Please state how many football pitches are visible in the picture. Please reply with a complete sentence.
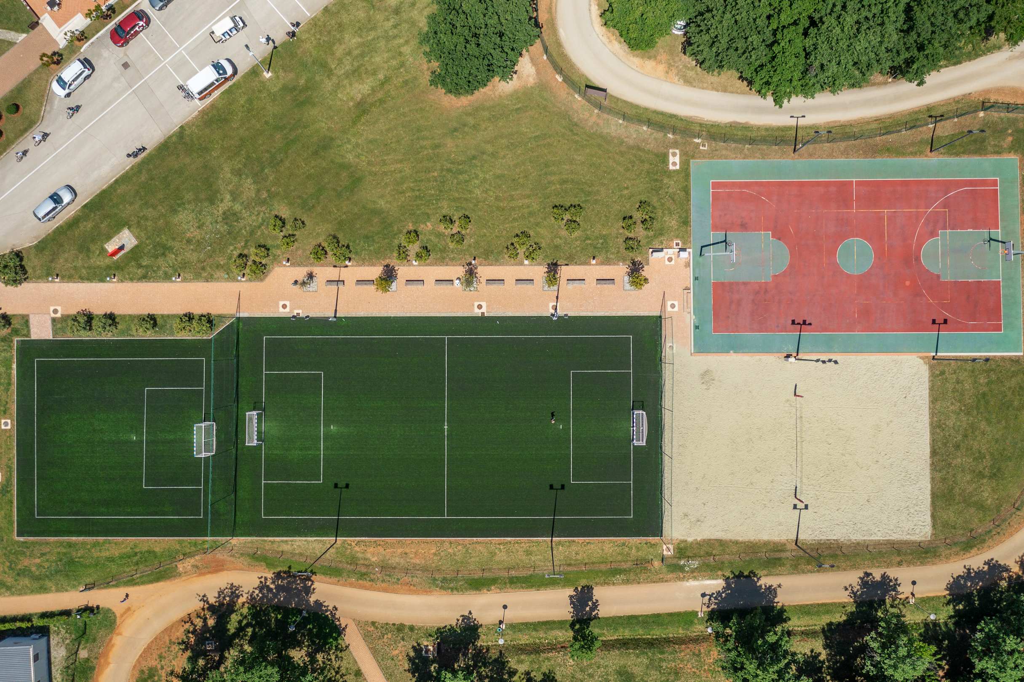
In total, there are 2 football pitches in the scene.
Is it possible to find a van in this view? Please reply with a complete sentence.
Yes, there's a van here.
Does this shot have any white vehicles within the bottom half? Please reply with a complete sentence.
No, no white vehicle appears within the bottom half.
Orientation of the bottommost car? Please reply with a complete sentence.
I'd say the bottommost car is aligned diagonally in the picture.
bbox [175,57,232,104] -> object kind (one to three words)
van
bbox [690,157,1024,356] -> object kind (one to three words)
basketball court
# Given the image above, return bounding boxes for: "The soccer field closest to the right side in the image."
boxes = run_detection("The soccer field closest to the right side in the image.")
[233,317,662,539]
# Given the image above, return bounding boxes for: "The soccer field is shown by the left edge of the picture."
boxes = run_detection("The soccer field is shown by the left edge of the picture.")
[14,317,237,540]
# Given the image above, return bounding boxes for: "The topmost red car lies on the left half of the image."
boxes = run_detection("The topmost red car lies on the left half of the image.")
[110,8,152,48]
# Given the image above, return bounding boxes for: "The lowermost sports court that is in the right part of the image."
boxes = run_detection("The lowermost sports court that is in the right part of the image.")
[661,347,932,540]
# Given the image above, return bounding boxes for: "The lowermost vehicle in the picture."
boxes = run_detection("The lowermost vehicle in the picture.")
[33,184,81,223]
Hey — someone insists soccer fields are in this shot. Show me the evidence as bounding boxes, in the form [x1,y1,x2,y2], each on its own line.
[14,317,237,540]
[233,317,662,539]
